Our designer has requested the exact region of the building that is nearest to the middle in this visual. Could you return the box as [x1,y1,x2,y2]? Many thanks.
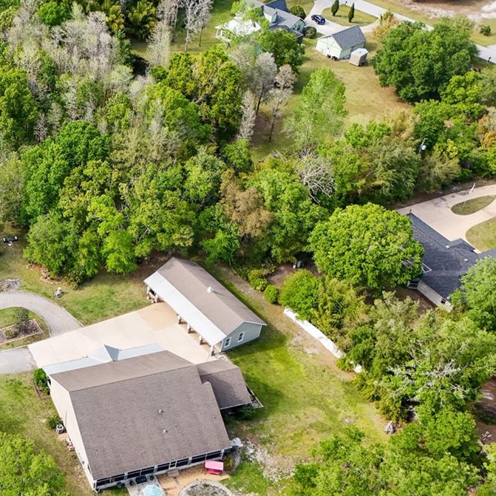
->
[145,258,266,355]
